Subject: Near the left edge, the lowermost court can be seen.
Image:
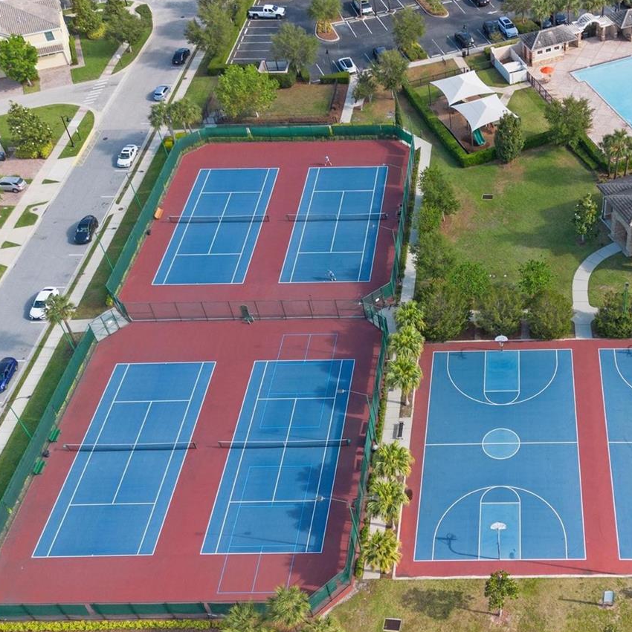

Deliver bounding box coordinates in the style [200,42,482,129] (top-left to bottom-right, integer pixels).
[0,321,247,617]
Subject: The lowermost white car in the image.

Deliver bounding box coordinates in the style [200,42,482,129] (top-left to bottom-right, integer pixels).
[27,283,57,317]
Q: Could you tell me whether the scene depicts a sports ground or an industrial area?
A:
sports ground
